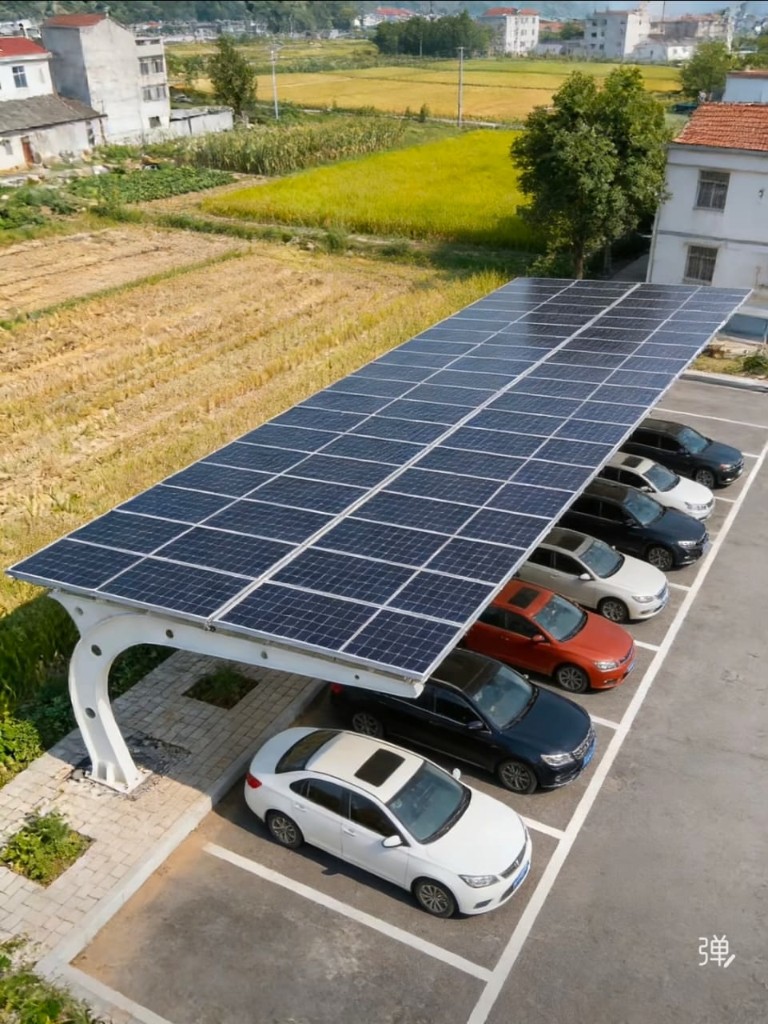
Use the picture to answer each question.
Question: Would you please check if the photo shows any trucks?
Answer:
No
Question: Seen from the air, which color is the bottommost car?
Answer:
white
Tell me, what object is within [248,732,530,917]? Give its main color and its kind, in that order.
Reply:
white car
